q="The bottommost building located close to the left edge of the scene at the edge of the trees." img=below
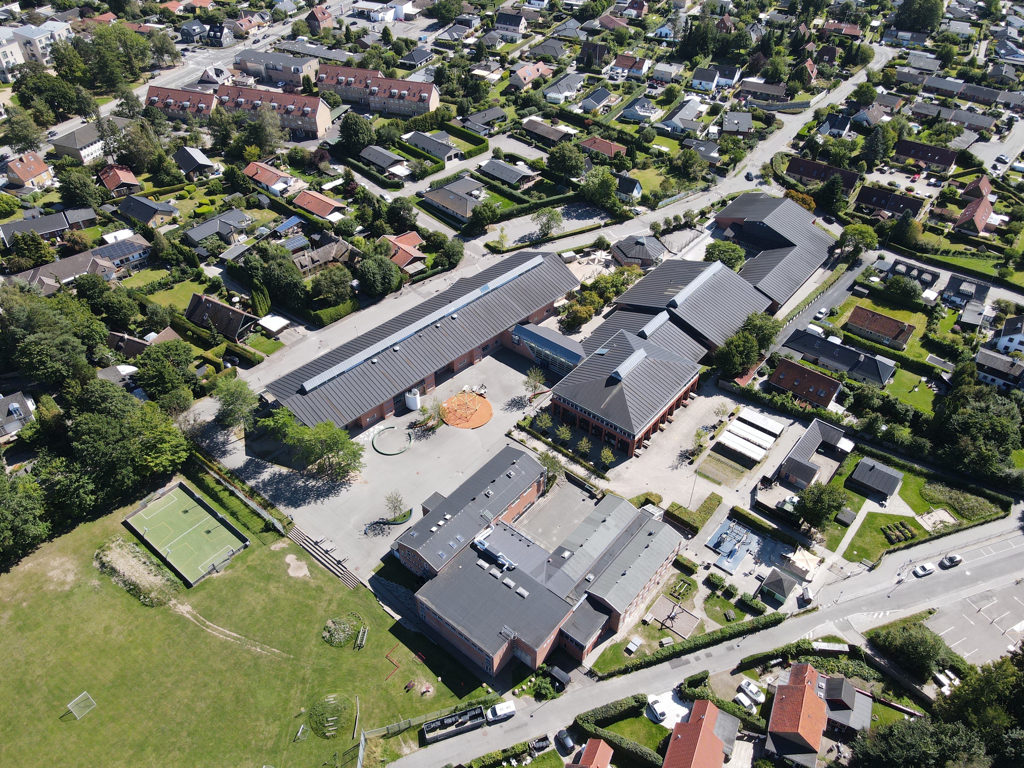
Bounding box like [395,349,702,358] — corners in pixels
[0,389,35,435]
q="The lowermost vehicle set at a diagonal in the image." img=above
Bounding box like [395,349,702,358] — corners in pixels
[554,727,578,757]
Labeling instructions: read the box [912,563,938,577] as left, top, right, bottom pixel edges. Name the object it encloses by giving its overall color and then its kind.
white car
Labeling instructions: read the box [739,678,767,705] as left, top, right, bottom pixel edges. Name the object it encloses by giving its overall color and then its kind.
white car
